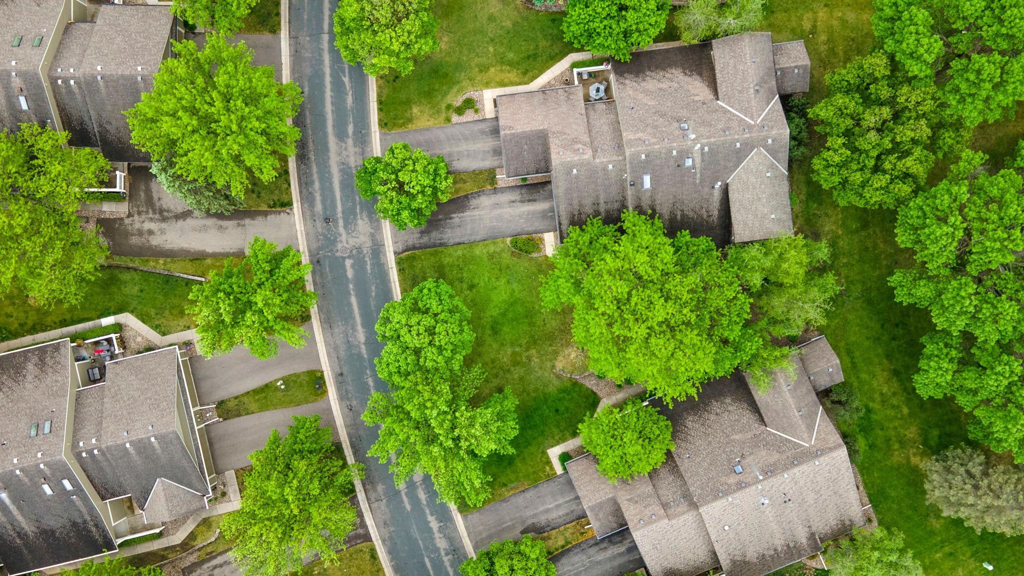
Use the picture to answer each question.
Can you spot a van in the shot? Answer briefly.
No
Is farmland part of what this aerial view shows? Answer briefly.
No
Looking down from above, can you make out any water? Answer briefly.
No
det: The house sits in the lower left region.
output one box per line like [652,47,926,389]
[0,338,220,576]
